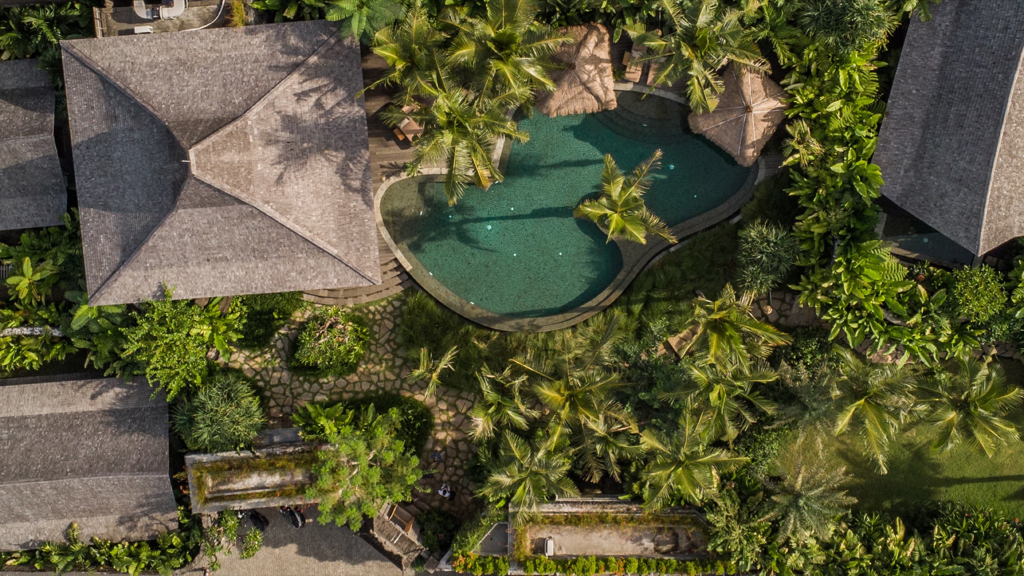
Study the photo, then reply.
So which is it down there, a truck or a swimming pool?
swimming pool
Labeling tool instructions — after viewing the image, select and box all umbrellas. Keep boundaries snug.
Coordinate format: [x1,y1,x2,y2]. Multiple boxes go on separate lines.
[536,22,618,119]
[688,61,789,166]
